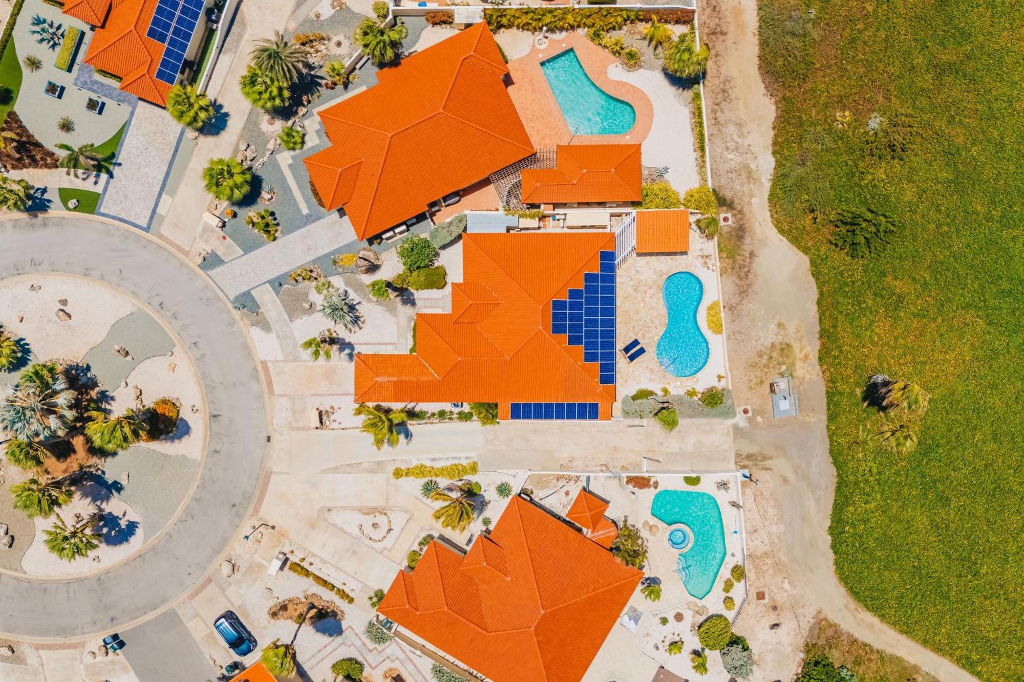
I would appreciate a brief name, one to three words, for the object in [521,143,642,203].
building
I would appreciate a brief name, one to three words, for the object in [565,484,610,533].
gazebo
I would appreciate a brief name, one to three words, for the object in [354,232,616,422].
house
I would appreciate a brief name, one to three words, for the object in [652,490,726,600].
swimming pool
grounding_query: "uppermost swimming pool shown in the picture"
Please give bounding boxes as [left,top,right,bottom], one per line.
[536,43,639,140]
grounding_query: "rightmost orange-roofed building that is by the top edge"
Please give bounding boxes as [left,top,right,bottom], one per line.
[302,19,536,241]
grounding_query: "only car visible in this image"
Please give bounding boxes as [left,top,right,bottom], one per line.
[212,613,253,663]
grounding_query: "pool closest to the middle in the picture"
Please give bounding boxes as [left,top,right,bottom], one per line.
[657,271,713,377]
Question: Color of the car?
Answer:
blue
